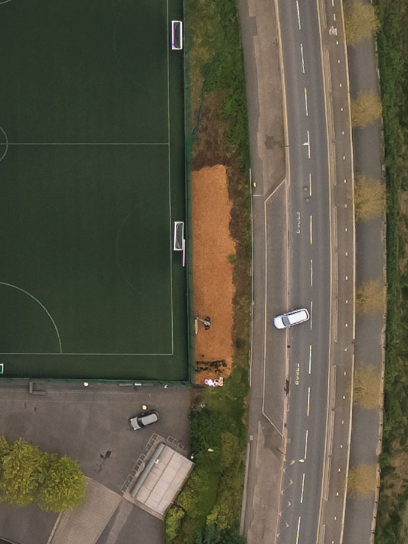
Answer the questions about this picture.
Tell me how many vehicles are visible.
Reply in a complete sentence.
My tally gives 2 vehicles in this view.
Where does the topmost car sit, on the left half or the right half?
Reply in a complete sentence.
The topmost car appears in the right half of the scene.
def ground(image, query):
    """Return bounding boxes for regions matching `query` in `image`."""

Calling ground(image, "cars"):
[274,308,311,330]
[128,410,160,431]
